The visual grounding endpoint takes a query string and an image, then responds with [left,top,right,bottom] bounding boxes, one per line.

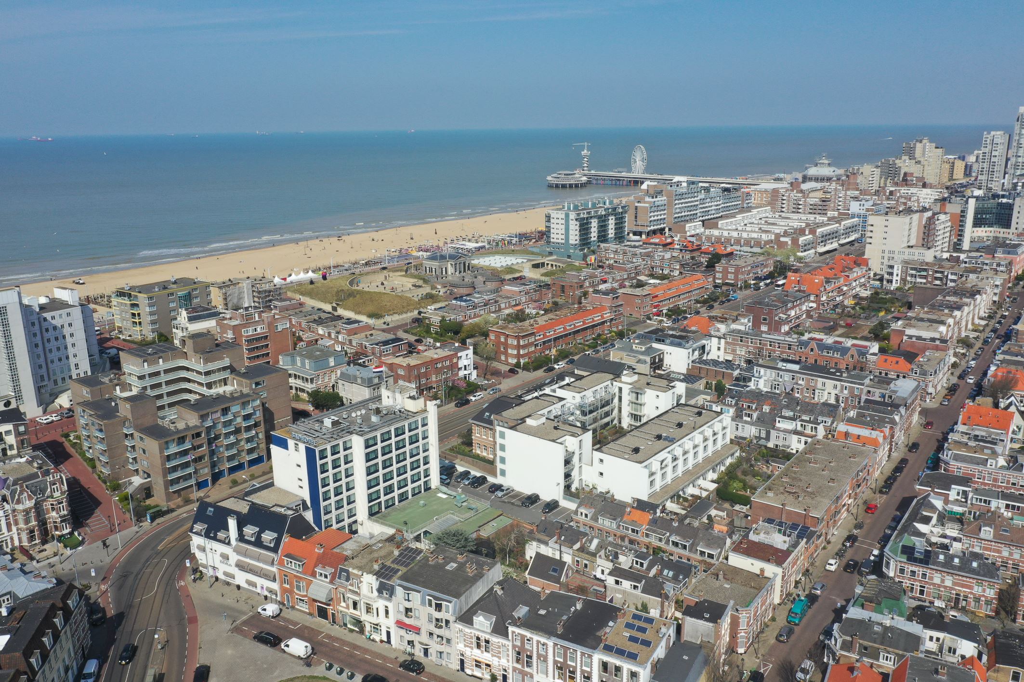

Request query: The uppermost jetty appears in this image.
[580,170,793,187]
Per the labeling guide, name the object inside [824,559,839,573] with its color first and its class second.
white car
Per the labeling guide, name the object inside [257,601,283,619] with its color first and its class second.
white vehicle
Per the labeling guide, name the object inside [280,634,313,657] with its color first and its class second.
white vehicle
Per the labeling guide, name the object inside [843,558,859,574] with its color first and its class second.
black car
